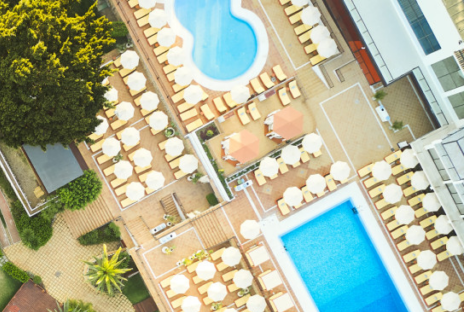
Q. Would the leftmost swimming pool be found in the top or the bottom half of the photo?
top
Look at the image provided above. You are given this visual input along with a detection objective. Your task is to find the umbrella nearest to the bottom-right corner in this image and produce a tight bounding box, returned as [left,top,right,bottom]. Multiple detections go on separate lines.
[437,291,459,311]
